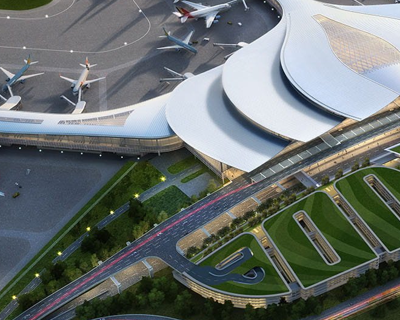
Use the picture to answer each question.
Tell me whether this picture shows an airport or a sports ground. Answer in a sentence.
It's an airport.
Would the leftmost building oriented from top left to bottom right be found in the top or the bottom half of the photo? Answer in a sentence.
You can find the leftmost building oriented from top left to bottom right in the bottom half.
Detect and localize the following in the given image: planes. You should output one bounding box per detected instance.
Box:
[160,30,196,53]
[0,54,43,90]
[173,0,230,24]
[59,60,108,94]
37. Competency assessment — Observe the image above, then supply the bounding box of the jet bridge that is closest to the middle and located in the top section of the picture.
[159,66,192,84]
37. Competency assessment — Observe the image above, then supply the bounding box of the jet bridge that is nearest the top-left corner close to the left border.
[0,83,24,110]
